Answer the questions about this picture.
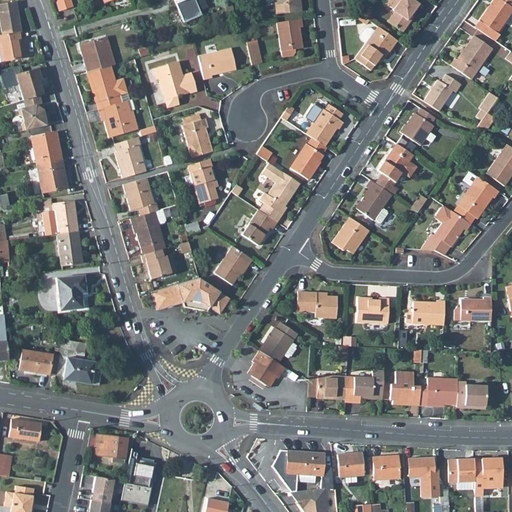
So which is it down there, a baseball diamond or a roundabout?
roundabout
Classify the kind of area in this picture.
residential area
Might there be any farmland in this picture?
No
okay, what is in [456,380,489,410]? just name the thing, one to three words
house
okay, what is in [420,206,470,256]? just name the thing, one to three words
house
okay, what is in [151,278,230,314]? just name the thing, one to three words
building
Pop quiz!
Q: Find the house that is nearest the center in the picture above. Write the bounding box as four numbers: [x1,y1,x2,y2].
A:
[212,248,252,286]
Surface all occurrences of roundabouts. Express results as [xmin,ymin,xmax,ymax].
[138,364,252,462]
